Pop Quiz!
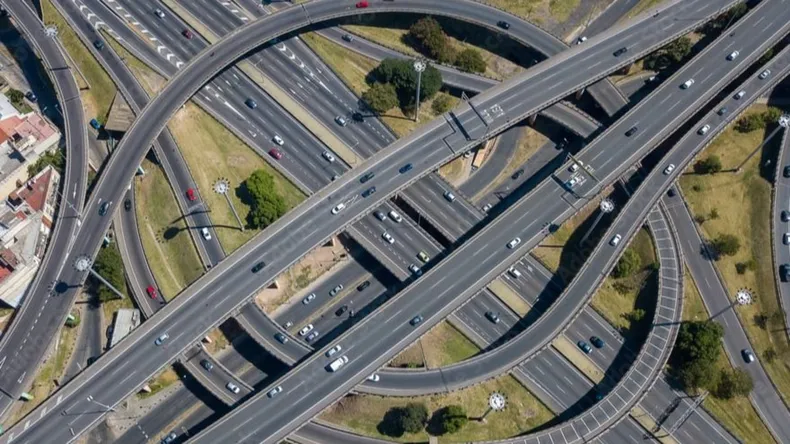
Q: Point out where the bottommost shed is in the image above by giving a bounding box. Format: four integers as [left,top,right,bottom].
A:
[111,308,145,345]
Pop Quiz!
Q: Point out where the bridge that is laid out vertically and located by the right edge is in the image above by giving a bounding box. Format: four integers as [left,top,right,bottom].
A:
[770,119,790,342]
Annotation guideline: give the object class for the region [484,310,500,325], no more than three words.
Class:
car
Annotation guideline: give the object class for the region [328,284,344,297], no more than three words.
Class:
vehicle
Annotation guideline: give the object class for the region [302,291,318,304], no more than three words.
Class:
vehicle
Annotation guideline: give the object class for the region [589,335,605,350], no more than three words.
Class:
car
